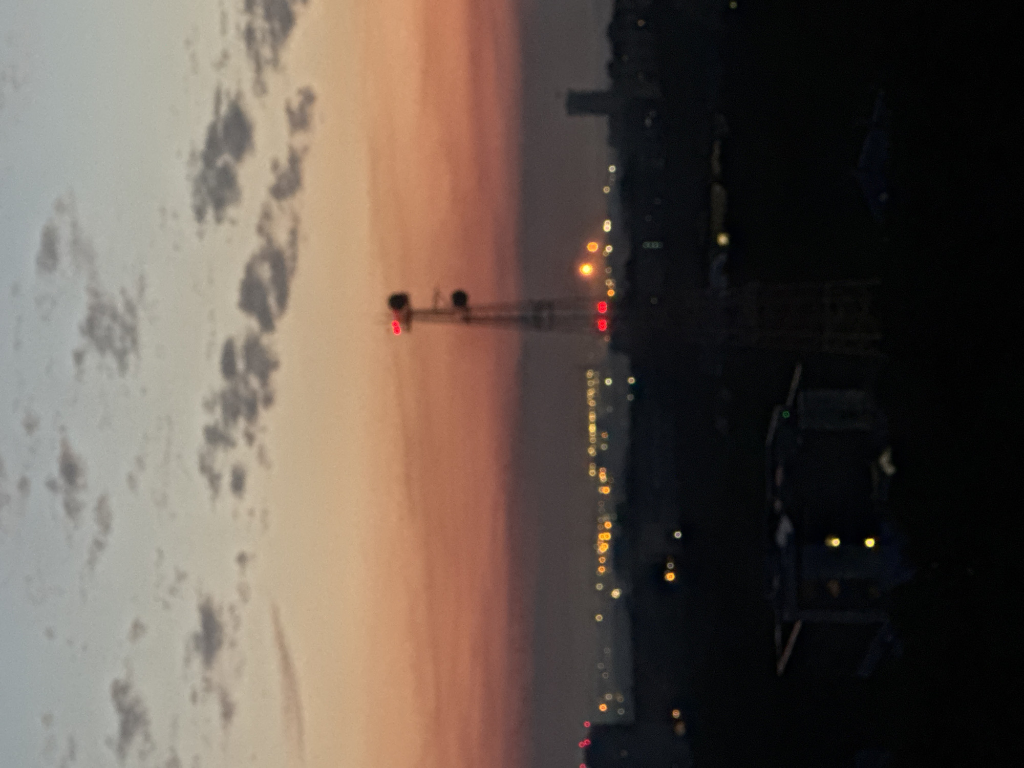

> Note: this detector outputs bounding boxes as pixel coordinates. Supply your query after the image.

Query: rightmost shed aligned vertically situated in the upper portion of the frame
[854,92,905,229]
